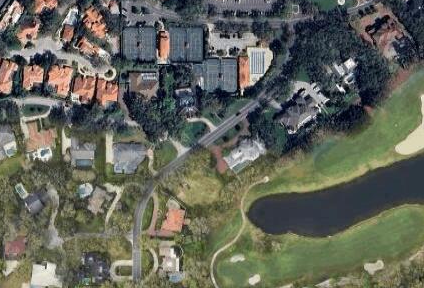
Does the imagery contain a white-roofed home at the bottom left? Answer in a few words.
Yes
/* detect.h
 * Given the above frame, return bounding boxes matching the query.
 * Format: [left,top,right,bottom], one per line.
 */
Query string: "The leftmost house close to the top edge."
[0,5,22,32]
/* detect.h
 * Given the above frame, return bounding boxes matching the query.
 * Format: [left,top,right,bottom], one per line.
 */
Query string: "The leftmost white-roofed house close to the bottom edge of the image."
[32,263,61,288]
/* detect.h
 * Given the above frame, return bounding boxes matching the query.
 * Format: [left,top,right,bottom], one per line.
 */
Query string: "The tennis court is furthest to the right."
[221,58,237,93]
